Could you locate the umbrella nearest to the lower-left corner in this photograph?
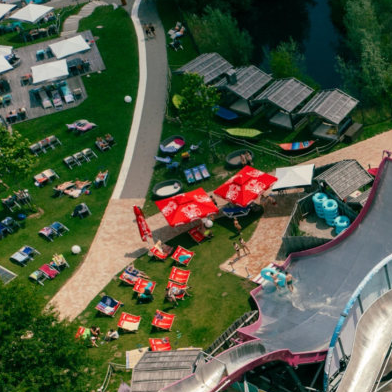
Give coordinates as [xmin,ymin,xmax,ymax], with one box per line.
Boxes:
[123,210,154,255]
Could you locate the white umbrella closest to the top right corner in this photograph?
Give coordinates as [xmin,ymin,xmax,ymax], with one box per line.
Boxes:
[272,164,314,198]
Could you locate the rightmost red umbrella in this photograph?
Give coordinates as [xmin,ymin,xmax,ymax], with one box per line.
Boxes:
[214,166,276,215]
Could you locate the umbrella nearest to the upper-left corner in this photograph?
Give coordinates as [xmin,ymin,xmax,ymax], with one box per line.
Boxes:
[0,2,18,35]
